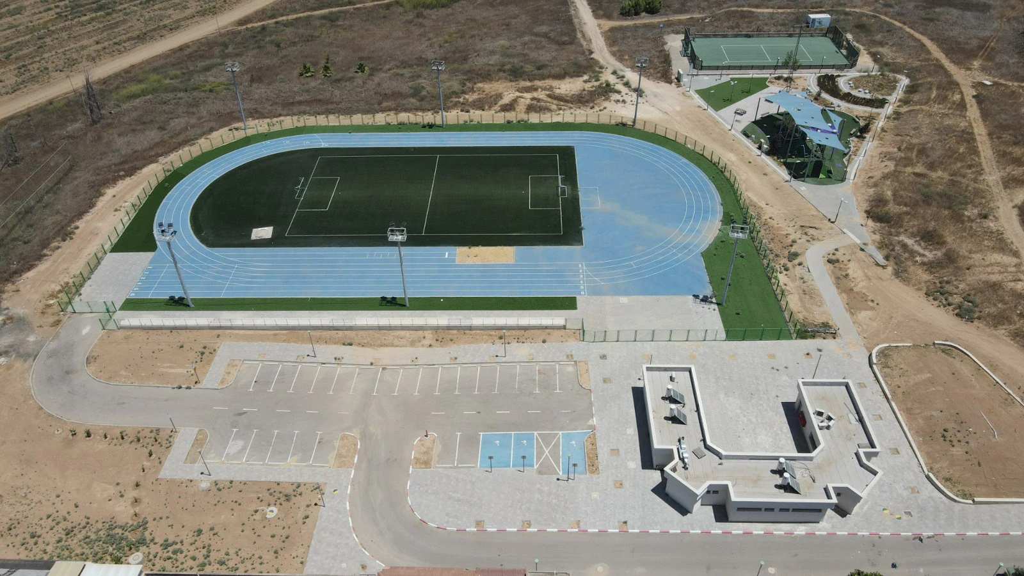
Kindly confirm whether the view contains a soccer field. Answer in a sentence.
Yes, the photo shows a soccer field.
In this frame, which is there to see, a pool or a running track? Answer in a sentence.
This aerial view contains a running track.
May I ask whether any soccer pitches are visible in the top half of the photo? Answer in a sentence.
Yes, a soccer pitch appears in the top half of the photo.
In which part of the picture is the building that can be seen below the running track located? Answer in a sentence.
The building that can be seen below the running track sits in the bottom right section of the image.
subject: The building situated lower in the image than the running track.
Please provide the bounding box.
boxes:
[642,364,883,520]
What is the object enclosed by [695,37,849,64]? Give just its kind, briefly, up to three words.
sports court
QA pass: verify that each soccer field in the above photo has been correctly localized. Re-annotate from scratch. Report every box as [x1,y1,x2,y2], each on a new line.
[188,146,583,247]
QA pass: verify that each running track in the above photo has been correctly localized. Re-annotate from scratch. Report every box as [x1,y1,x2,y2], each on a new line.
[128,131,721,298]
